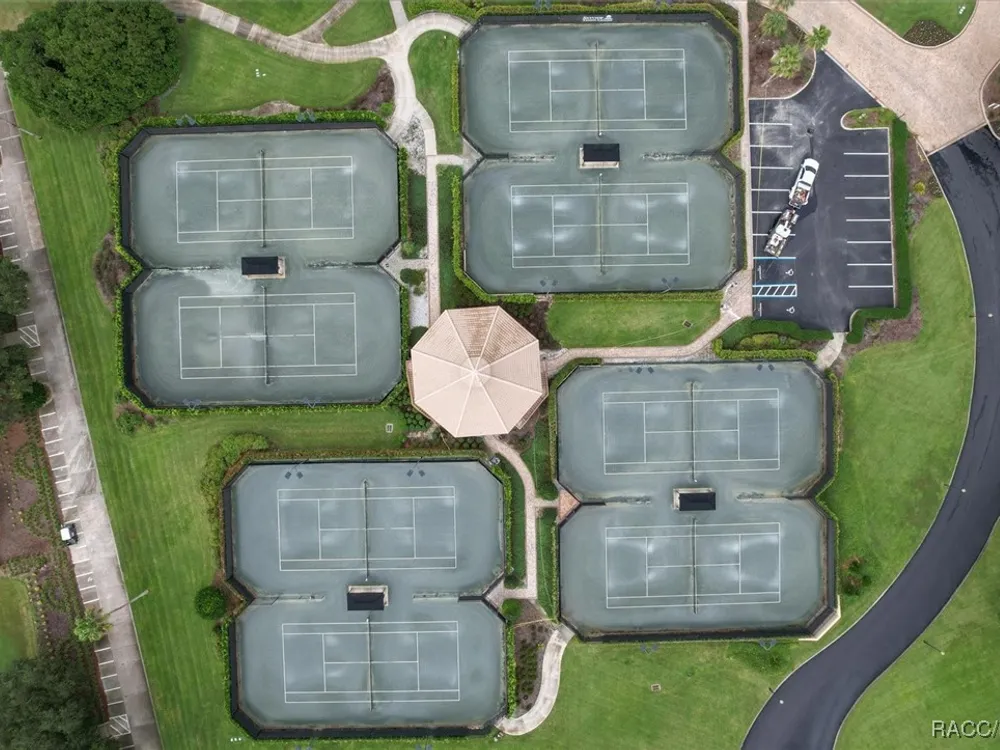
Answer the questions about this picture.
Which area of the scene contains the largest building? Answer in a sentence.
You can find the largest building in the center area of the picture.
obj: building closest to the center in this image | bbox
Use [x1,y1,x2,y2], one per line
[406,305,548,438]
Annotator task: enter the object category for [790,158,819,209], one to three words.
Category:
truck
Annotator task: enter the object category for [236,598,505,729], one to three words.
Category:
tennis court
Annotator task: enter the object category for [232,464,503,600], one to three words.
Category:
tennis court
